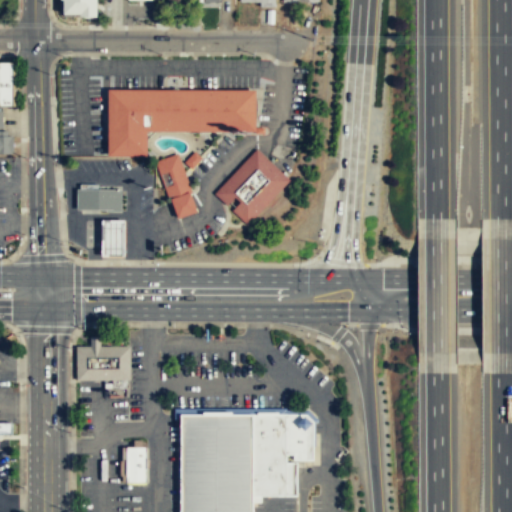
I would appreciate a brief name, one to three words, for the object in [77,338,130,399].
building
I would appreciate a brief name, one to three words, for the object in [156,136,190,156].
swimming pool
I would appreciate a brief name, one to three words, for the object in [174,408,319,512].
building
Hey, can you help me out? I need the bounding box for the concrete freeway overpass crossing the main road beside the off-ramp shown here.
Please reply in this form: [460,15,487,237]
[417,217,458,375]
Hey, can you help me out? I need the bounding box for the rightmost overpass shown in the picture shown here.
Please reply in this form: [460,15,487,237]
[483,217,512,375]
